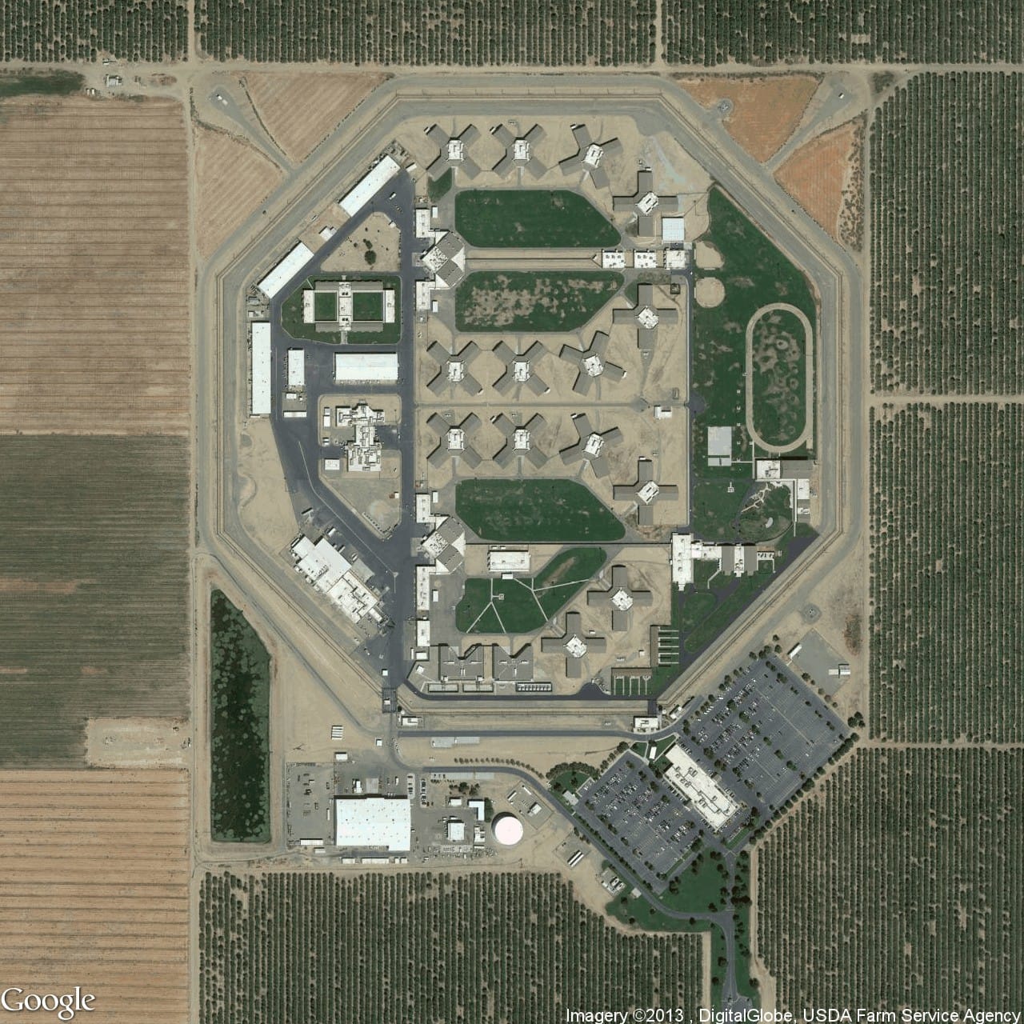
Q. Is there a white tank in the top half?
No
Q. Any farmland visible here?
Yes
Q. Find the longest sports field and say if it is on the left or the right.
right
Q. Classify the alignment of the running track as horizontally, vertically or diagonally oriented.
vertically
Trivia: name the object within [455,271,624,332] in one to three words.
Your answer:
sports field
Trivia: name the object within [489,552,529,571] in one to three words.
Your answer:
building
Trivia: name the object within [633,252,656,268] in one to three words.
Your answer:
building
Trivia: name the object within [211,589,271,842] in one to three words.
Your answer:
pond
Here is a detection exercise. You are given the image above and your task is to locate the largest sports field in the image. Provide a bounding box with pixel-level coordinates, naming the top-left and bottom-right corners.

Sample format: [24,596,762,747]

[693,188,816,481]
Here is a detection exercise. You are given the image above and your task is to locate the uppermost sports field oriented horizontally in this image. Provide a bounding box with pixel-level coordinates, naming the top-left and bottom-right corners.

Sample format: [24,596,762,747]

[455,190,620,247]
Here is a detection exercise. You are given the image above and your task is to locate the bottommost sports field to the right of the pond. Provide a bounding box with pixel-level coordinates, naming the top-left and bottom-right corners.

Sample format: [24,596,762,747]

[456,548,606,634]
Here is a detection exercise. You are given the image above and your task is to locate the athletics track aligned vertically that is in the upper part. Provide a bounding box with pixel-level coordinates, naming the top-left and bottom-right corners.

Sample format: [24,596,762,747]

[746,302,813,453]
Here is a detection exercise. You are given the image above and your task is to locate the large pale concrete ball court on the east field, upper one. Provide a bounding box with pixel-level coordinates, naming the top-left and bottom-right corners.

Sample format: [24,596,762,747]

[708,426,731,455]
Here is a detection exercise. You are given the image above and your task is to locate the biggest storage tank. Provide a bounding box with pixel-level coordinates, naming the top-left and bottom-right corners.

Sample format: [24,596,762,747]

[491,814,523,846]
